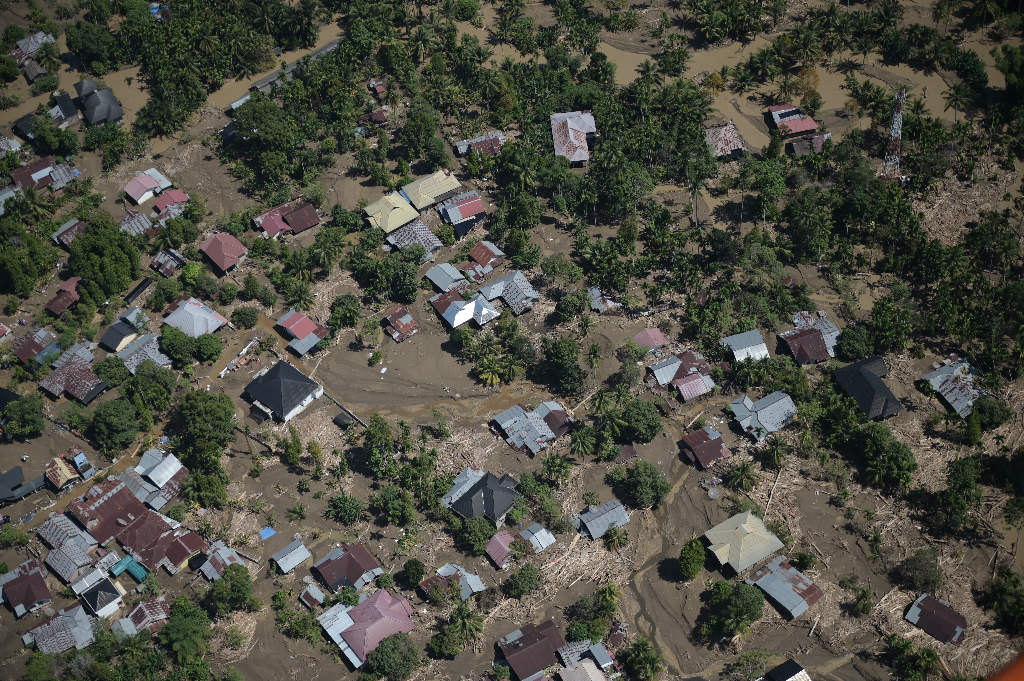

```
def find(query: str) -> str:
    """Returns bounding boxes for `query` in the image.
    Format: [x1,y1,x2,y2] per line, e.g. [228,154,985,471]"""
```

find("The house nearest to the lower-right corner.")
[904,594,967,648]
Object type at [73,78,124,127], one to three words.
house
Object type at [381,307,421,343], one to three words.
shed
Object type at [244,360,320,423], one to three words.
house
